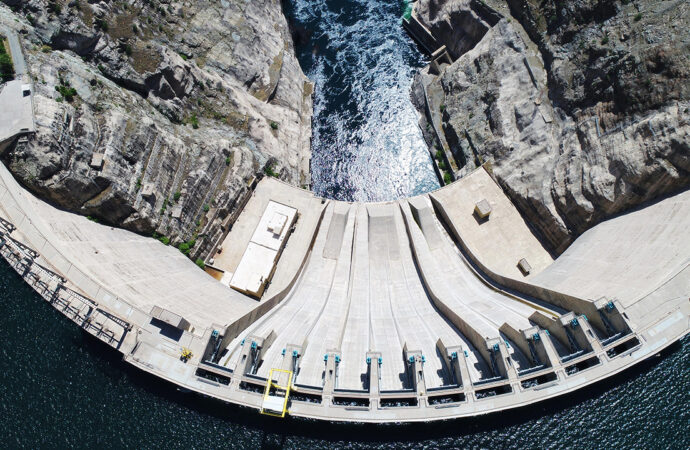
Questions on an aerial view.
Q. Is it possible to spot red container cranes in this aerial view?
No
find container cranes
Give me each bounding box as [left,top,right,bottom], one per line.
[260,368,294,418]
